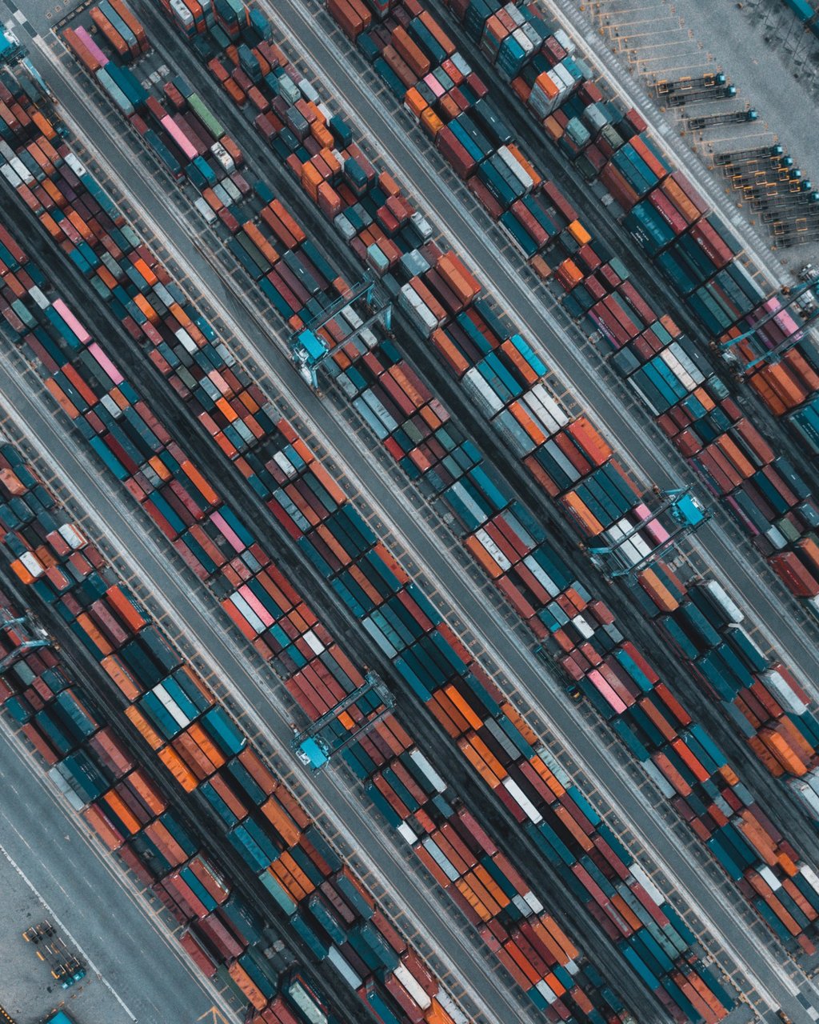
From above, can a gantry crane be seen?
Yes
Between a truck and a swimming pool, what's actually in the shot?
truck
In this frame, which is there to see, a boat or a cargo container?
cargo container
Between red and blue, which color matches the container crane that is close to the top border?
blue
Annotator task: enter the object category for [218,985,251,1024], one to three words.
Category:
shipping container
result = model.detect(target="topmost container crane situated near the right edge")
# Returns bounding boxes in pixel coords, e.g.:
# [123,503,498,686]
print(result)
[704,271,819,384]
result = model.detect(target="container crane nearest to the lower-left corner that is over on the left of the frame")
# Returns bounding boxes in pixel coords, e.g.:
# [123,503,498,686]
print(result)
[0,603,63,660]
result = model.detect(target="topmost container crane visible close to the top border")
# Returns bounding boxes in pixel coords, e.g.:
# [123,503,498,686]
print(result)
[0,18,61,105]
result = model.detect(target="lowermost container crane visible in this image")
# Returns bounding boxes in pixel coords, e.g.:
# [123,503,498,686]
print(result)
[278,661,400,789]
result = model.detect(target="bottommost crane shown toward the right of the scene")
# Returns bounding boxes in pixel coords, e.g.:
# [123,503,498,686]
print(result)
[576,482,716,591]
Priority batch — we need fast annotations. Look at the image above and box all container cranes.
[576,482,716,591]
[0,18,61,105]
[704,271,819,384]
[277,279,397,397]
[0,603,63,660]
[278,661,400,789]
